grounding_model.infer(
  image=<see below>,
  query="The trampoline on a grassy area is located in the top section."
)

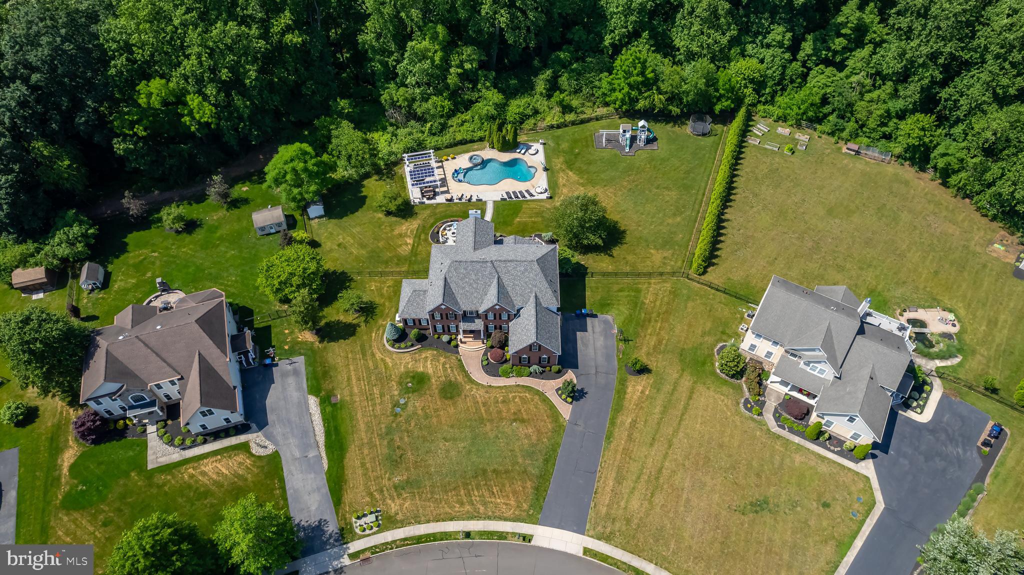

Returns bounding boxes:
[690,113,715,139]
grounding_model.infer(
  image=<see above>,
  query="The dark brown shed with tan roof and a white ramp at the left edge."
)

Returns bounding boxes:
[11,262,61,300]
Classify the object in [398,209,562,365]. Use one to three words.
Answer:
house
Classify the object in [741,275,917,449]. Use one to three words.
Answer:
house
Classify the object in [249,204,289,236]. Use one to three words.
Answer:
shed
